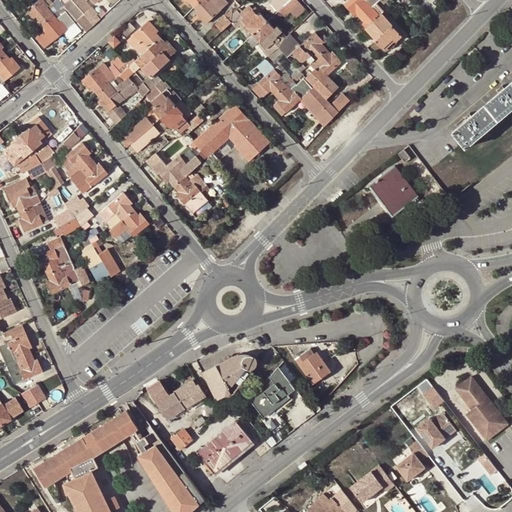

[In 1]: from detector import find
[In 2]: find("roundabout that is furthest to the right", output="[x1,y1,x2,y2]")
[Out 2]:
[406,254,486,336]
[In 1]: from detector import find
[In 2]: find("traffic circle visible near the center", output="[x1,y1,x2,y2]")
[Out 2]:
[198,267,264,334]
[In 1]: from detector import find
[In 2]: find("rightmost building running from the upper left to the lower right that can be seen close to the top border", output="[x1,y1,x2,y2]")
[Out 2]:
[347,0,402,52]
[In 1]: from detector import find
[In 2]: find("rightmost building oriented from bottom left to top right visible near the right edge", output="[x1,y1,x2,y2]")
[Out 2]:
[452,88,512,150]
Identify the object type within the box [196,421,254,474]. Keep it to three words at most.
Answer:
house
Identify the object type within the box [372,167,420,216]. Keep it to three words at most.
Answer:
house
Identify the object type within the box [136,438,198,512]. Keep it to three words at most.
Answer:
building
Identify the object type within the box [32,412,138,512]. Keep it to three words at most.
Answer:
building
